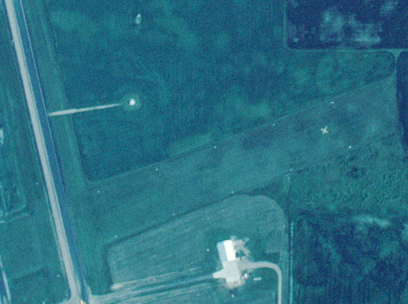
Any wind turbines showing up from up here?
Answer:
No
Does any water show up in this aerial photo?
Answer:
No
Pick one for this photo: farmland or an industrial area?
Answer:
farmland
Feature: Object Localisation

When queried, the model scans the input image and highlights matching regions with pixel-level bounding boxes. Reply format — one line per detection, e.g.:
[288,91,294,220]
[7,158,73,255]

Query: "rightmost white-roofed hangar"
[217,241,236,263]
